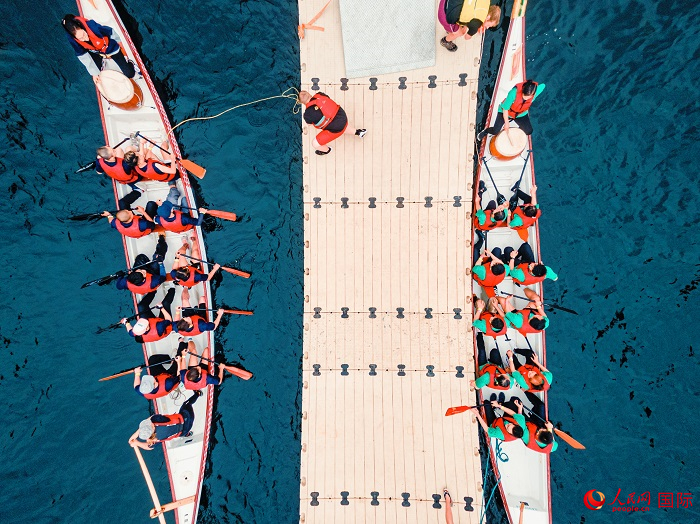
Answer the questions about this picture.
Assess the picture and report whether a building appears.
No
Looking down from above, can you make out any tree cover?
No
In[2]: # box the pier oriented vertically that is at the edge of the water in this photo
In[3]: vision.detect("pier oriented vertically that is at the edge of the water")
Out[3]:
[297,0,487,524]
